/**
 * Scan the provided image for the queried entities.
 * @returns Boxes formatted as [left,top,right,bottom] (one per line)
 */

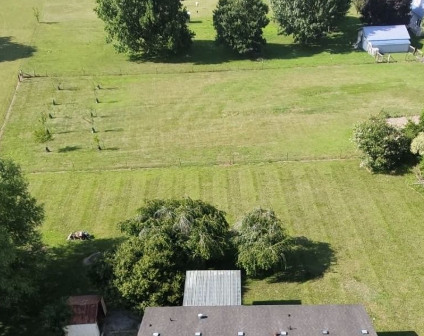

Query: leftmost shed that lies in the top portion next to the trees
[364,19,417,52]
